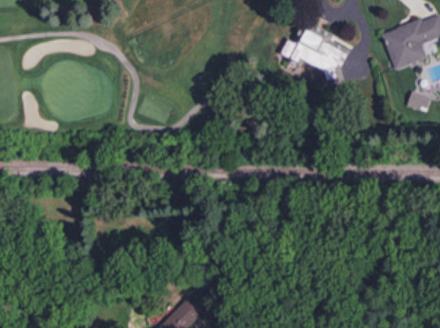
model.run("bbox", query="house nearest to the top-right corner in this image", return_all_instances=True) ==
[384,14,440,68]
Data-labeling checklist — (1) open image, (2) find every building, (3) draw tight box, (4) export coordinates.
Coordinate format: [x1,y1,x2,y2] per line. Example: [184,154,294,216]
[410,92,430,112]
[384,14,440,68]
[162,298,202,328]
[282,30,350,78]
